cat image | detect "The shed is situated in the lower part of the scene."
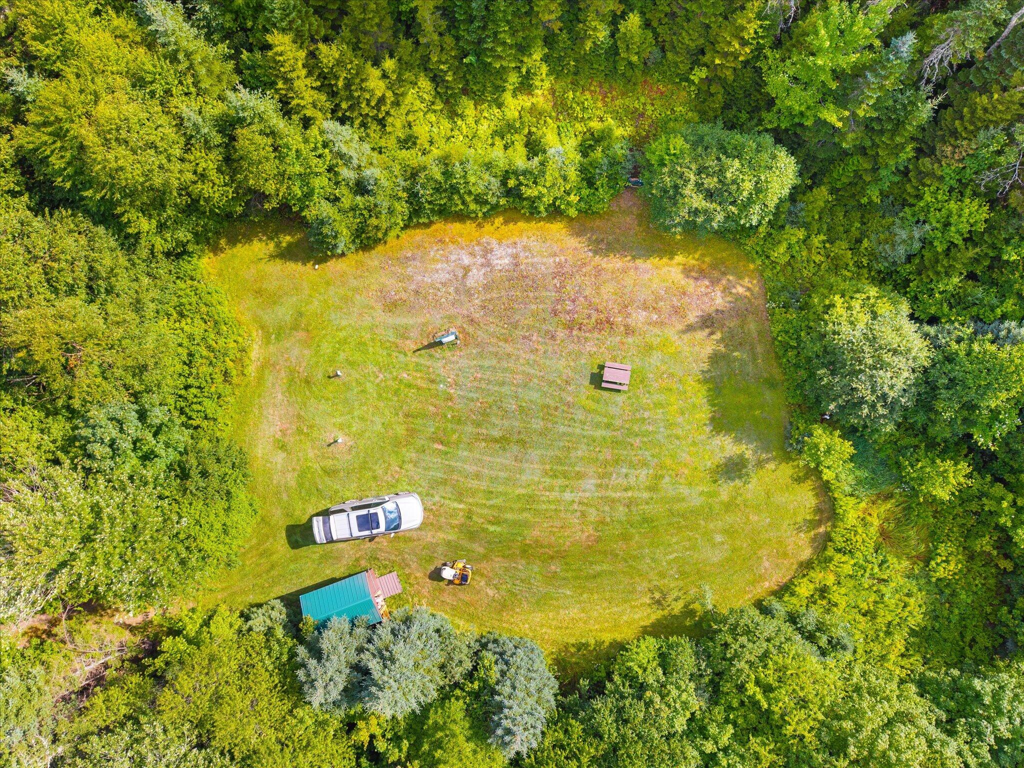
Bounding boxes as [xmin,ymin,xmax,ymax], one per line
[298,567,403,643]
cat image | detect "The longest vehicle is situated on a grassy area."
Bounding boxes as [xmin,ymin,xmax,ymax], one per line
[313,490,427,543]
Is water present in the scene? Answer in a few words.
No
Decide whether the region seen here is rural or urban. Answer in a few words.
rural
